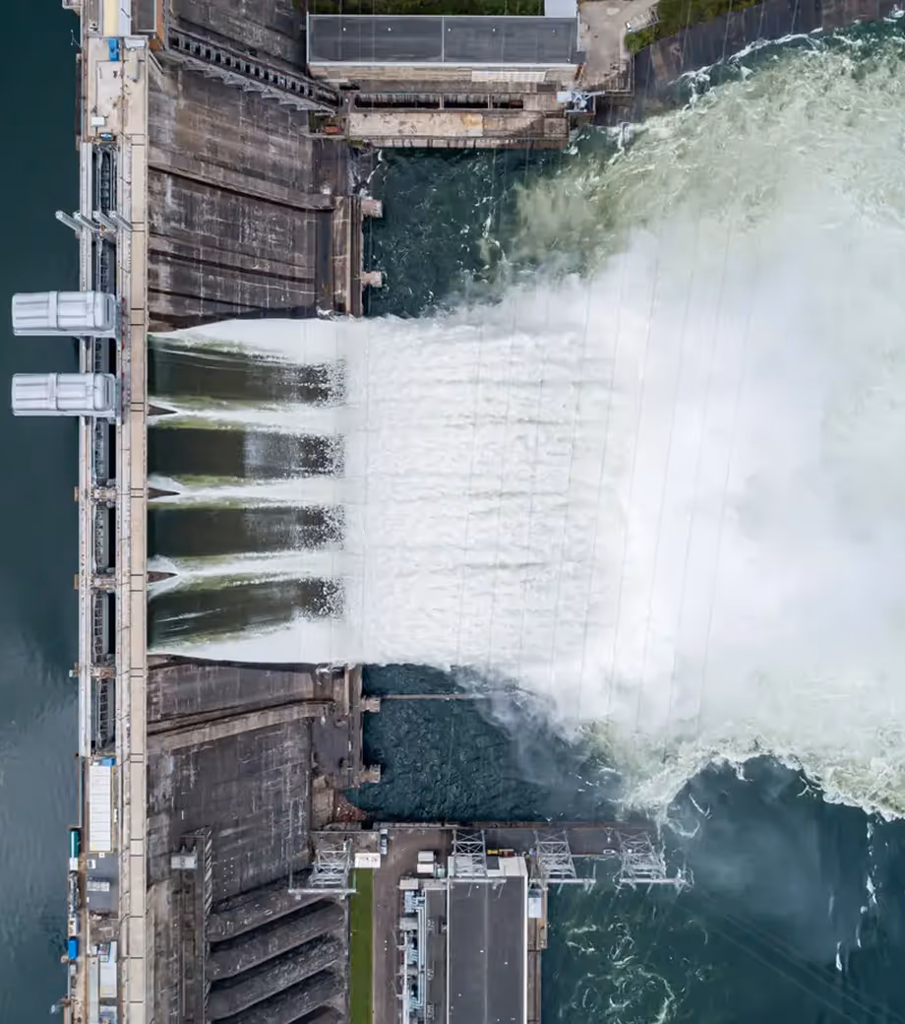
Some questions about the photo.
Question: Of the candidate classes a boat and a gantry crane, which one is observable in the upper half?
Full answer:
The one visible in the upper half is a gantry crane.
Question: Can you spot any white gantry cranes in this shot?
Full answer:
Yes, there is a white gantry crane in the image.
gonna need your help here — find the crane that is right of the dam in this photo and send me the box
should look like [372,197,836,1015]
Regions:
[557,91,604,125]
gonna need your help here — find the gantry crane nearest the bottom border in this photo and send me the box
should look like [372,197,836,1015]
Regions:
[11,370,127,428]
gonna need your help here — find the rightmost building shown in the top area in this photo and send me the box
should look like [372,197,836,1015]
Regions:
[309,0,579,84]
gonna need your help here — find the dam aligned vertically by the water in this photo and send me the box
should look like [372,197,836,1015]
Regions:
[61,0,383,1024]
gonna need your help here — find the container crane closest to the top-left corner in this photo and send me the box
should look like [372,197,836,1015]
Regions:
[11,291,127,351]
